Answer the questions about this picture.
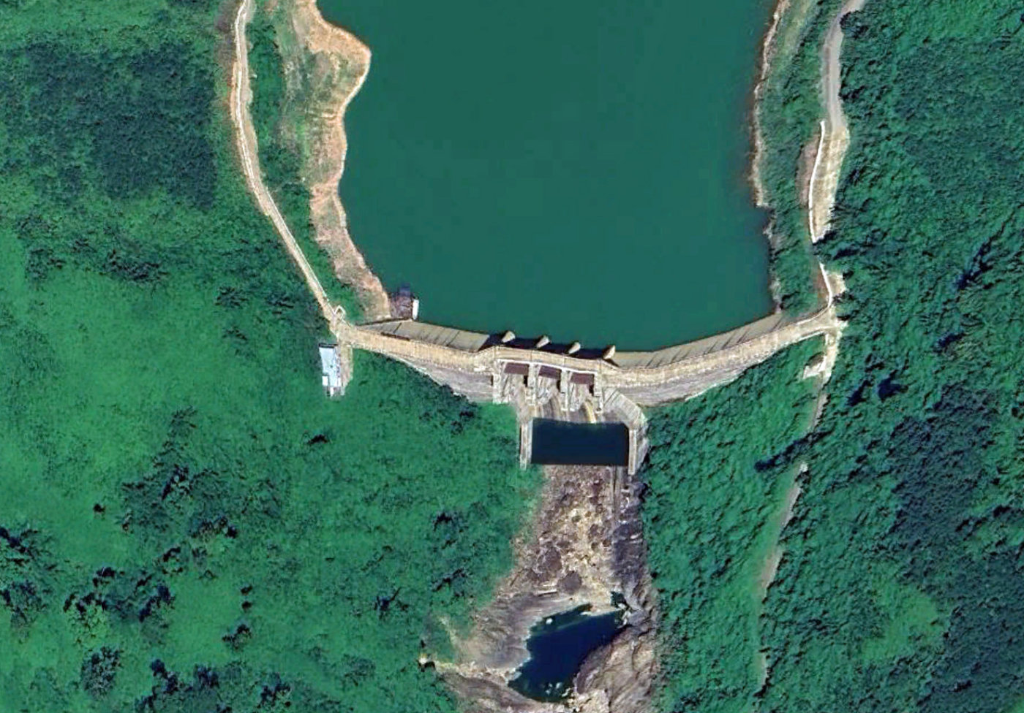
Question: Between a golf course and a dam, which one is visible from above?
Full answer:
There is a dam in the scene.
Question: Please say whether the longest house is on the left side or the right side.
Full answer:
The longest house sits on the left side.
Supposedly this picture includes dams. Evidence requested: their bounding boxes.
[338,307,835,474]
